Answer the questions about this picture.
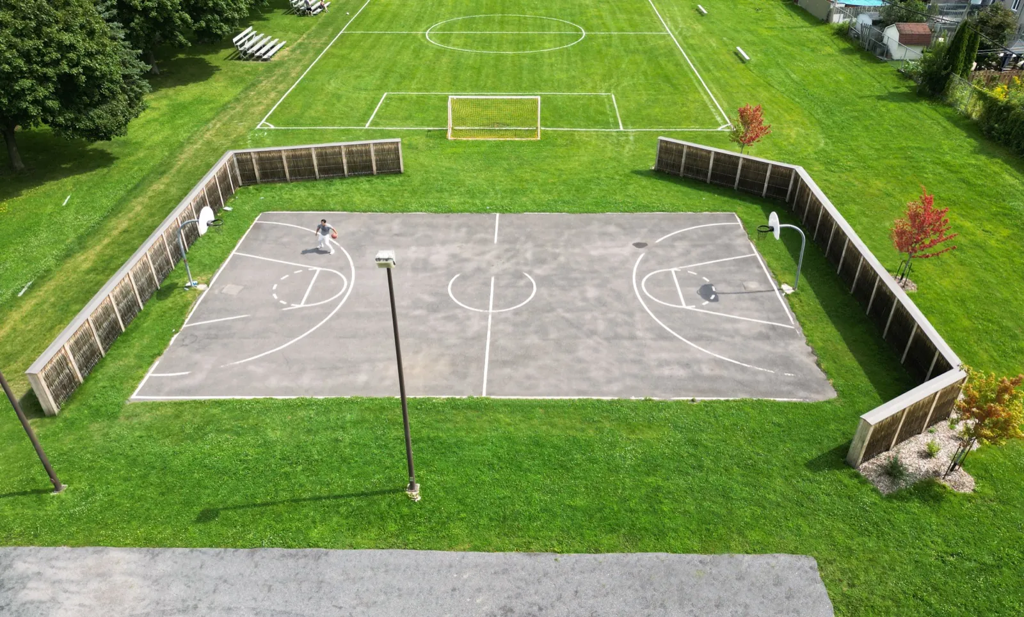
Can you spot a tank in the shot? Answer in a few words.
No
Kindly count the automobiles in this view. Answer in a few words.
0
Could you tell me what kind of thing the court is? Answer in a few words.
basketball court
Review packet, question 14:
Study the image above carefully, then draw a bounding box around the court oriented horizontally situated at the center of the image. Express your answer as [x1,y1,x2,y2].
[130,211,838,401]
